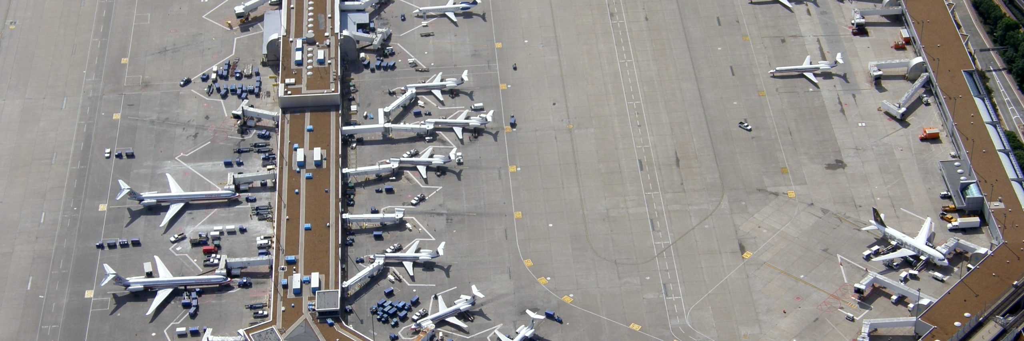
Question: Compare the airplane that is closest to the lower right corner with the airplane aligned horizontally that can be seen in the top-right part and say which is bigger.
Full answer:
It is the airplane that is closest to the lower right corner that is larger, not the airplane aligned horizontally that can be seen in the top-right part.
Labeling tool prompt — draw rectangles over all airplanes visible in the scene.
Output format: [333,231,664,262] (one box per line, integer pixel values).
[369,241,448,276]
[401,70,472,100]
[491,309,545,341]
[414,0,481,24]
[777,0,788,8]
[434,109,494,139]
[112,174,241,227]
[859,205,948,265]
[410,284,487,331]
[400,147,461,178]
[769,53,842,83]
[97,256,232,315]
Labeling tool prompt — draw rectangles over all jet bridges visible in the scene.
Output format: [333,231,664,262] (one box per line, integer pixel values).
[225,171,276,193]
[852,9,903,29]
[341,208,405,234]
[232,100,278,127]
[204,327,246,341]
[867,61,909,83]
[341,254,387,300]
[415,319,439,341]
[880,74,931,122]
[854,272,934,308]
[341,0,381,11]
[217,255,273,280]
[341,158,402,188]
[938,238,987,260]
[350,28,391,53]
[857,318,916,341]
[383,119,435,144]
[234,0,267,23]
[383,85,418,124]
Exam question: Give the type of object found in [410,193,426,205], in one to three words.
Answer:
vehicle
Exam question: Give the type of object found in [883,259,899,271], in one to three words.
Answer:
vehicle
